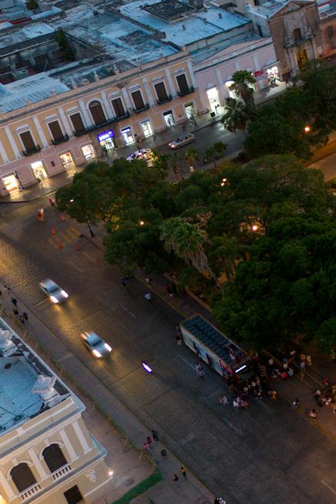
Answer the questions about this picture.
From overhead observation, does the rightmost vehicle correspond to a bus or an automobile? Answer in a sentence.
The rightmost vehicle can be classified as a bus.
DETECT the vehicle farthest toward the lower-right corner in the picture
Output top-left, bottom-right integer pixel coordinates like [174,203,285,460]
[184,317,257,389]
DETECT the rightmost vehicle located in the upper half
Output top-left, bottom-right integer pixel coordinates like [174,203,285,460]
[166,130,197,148]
